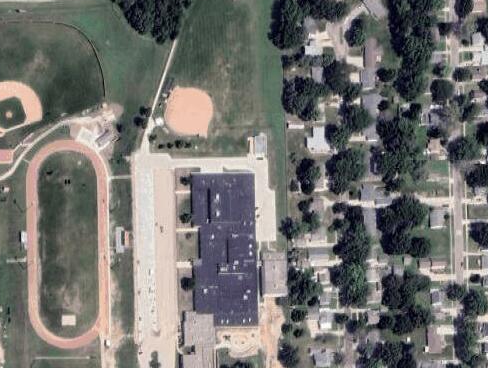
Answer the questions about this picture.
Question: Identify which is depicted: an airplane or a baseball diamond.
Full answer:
The image shows a baseball diamond.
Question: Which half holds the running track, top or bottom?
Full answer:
You can find the running track in the bottom half.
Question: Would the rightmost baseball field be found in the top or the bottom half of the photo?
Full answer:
It is in the top half that the rightmost baseball field appears.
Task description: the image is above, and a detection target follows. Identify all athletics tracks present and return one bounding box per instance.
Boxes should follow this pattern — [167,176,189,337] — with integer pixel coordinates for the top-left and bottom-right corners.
[26,140,111,368]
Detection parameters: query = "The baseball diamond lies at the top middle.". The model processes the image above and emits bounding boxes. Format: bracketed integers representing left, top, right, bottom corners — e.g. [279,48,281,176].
[166,0,261,153]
